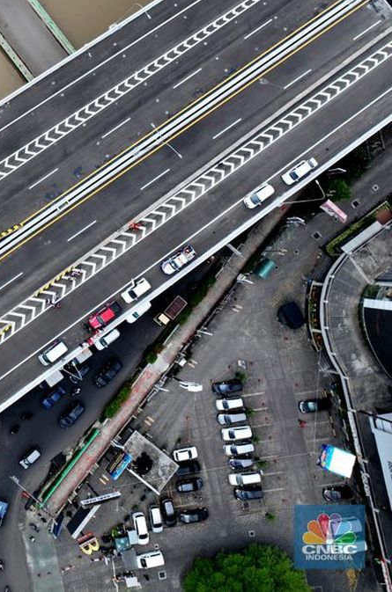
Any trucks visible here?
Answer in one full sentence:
Yes, there's a truck here.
